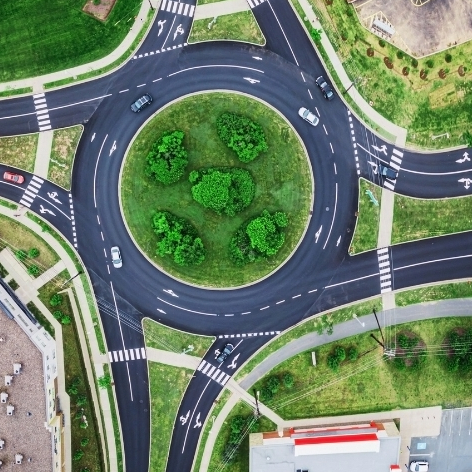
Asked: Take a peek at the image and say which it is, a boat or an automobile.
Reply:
automobile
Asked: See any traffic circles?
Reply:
Yes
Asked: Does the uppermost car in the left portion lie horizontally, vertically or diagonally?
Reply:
diagonally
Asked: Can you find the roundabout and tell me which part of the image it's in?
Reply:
center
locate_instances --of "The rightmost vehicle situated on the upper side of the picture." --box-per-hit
[376,164,401,180]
